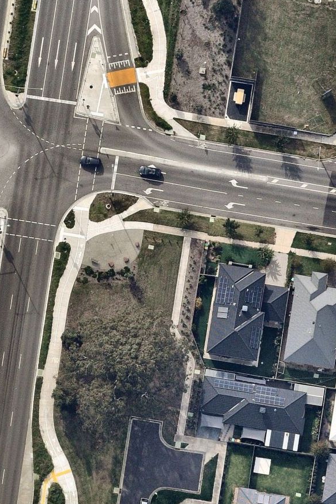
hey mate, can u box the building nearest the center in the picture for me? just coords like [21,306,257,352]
[207,261,290,361]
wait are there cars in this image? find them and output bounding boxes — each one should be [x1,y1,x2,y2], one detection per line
[80,156,102,168]
[138,167,162,178]
[139,496,149,504]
